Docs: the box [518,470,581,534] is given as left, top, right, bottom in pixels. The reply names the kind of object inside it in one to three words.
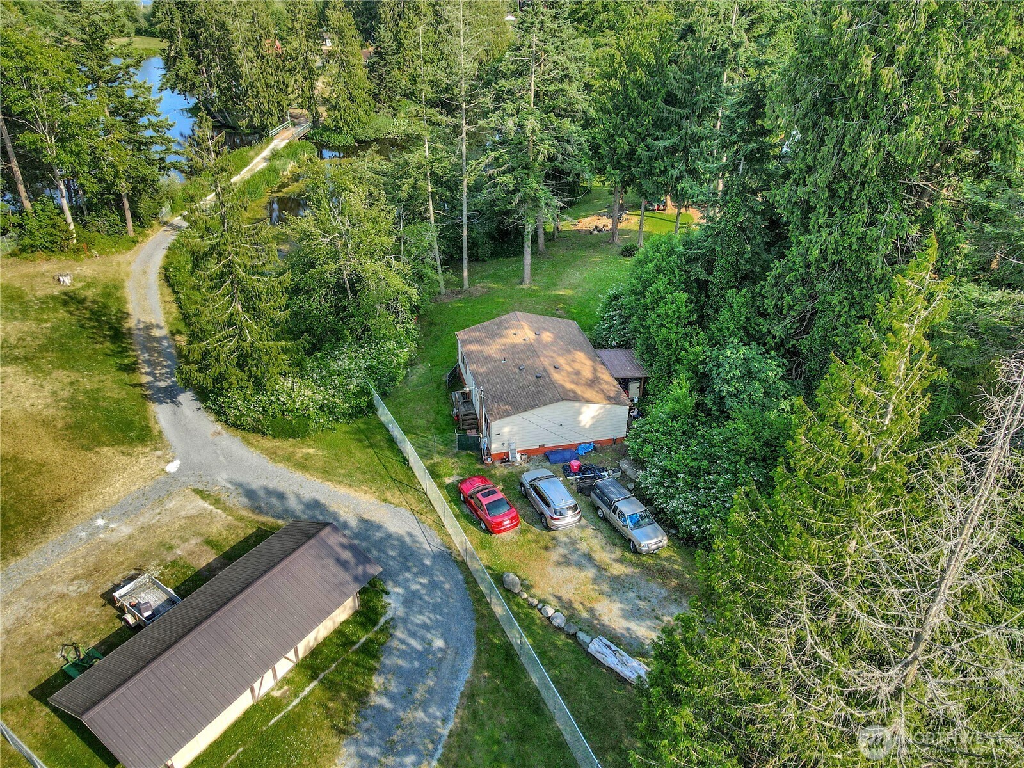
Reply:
car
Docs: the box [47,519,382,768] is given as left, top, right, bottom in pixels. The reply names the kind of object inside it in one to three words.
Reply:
barn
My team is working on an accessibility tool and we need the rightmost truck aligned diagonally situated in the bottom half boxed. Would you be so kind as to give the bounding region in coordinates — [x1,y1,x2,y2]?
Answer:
[588,475,672,558]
